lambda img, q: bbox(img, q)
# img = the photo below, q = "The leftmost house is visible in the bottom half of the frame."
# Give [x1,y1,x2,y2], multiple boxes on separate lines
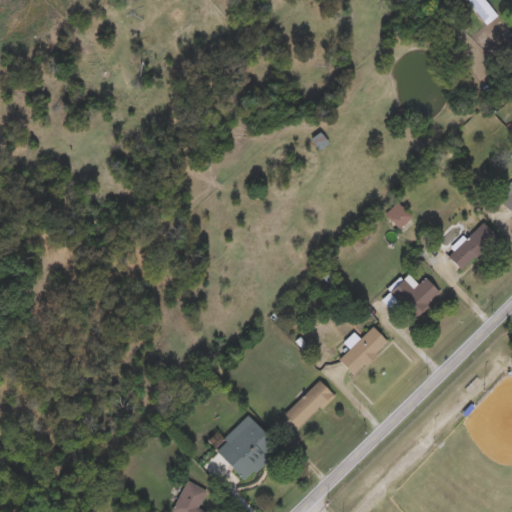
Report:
[170,482,206,512]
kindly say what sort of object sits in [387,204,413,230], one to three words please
house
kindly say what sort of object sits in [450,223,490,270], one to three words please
house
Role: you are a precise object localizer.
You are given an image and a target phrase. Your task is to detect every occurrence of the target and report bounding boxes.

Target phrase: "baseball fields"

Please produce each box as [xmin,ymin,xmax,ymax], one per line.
[392,374,512,512]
